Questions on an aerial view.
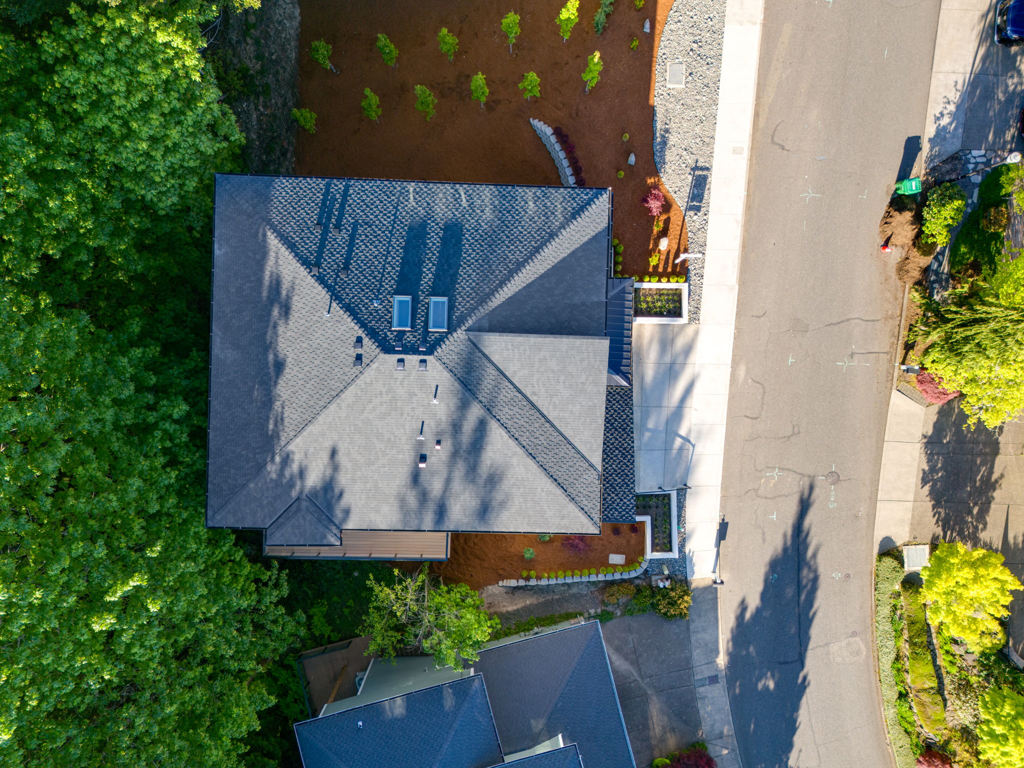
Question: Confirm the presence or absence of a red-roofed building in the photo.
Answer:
No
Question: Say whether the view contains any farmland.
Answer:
No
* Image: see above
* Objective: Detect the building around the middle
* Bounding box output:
[204,175,638,560]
